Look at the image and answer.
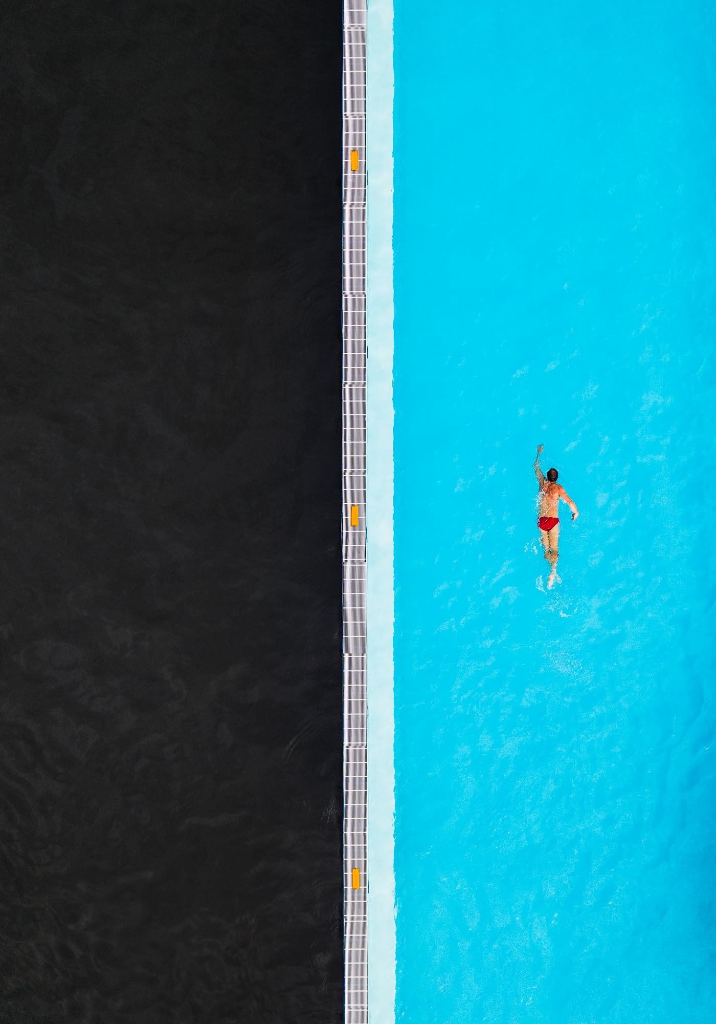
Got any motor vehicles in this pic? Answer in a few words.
No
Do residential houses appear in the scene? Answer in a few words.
No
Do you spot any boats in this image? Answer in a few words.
No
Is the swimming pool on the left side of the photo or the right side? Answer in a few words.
right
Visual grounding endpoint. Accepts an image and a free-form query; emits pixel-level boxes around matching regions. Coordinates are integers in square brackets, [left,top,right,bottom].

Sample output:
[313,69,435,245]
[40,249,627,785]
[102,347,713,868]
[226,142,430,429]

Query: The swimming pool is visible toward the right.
[367,0,716,1024]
